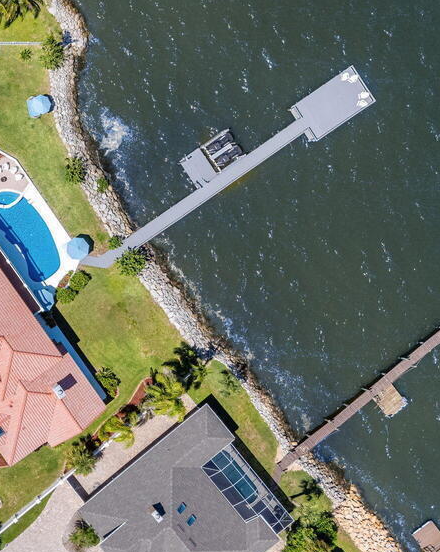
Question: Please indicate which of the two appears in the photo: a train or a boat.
boat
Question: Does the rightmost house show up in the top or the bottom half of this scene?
bottom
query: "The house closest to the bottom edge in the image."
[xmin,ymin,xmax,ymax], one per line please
[79,403,279,552]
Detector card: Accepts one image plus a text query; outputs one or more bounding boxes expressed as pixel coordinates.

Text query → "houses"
[79,403,279,552]
[0,249,109,467]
